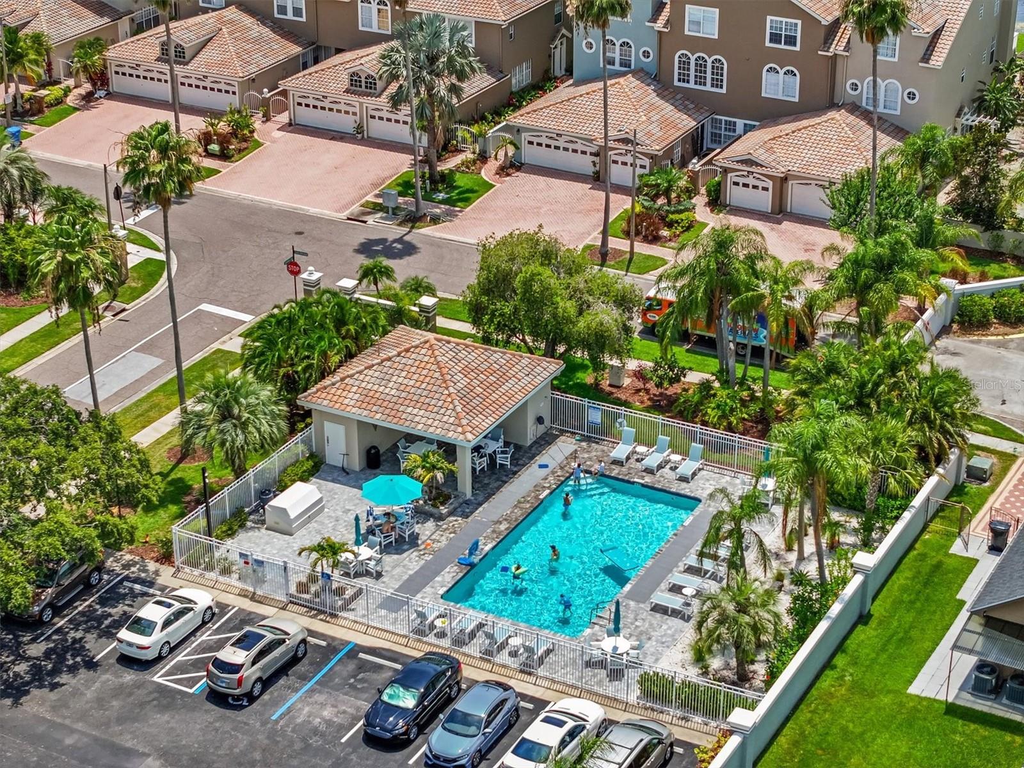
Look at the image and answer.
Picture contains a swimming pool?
Yes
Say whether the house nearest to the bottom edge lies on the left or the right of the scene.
right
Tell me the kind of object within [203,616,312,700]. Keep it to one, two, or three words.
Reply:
car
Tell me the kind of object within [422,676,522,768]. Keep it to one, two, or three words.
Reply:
car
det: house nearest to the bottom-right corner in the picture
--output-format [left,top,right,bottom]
[965,517,1024,625]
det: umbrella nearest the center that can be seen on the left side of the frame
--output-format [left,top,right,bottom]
[360,479,418,521]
